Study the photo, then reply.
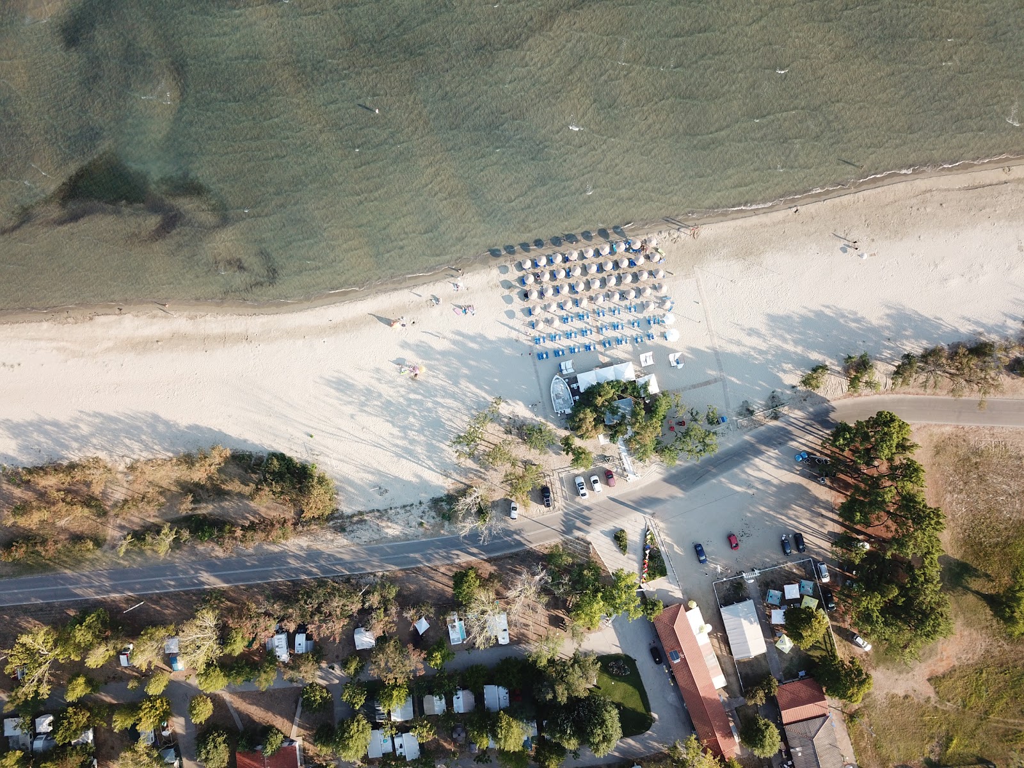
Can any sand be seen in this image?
Yes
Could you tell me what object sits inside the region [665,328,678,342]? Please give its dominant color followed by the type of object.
white umbrella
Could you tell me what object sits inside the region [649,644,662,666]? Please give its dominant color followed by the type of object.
black vehicle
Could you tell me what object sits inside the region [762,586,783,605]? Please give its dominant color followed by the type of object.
blue gazebo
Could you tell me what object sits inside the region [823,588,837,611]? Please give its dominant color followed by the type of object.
black car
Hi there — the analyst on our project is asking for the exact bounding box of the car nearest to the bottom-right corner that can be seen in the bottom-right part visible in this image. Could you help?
[850,632,872,651]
